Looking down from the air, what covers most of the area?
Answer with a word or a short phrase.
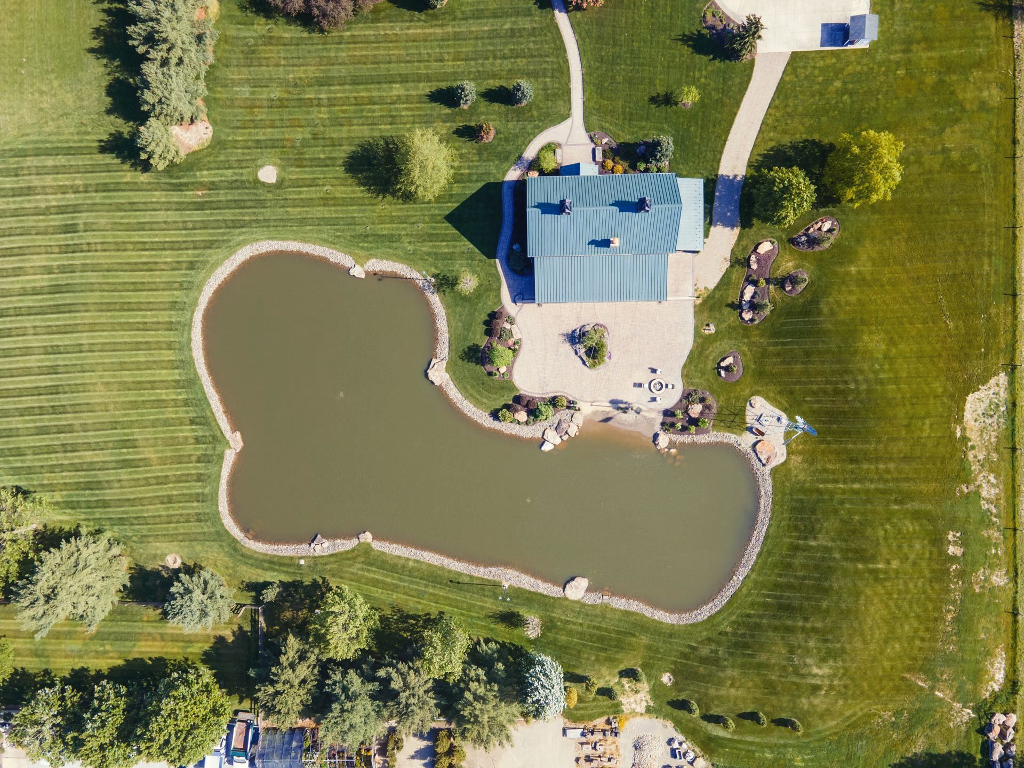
grass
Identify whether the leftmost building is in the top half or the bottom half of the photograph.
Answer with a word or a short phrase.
bottom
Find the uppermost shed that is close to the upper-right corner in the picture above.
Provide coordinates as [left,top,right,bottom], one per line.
[846,11,880,46]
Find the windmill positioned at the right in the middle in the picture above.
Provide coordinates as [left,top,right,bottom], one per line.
[753,407,820,447]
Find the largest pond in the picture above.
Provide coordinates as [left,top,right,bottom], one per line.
[209,258,753,605]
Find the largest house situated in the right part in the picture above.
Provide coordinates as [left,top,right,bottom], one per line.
[526,162,704,305]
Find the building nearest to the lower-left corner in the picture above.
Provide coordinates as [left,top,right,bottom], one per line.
[249,727,304,768]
